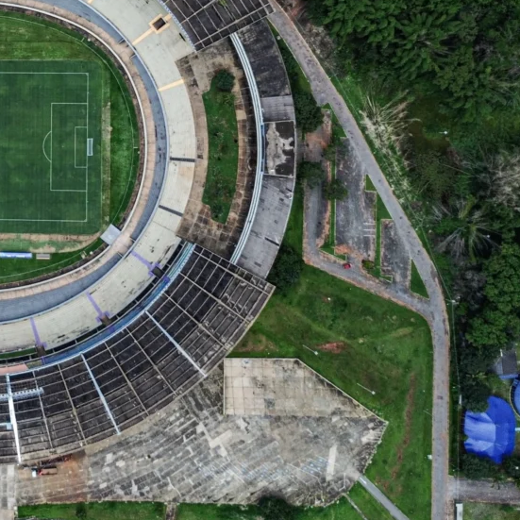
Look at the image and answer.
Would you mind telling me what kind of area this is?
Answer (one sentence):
The picture captures a sports ground.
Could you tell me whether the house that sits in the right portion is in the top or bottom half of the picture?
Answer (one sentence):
Seen from above, the house that sits in the right portion lies in the bottom half of the view.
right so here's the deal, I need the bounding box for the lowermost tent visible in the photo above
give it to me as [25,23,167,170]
[461,396,516,462]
